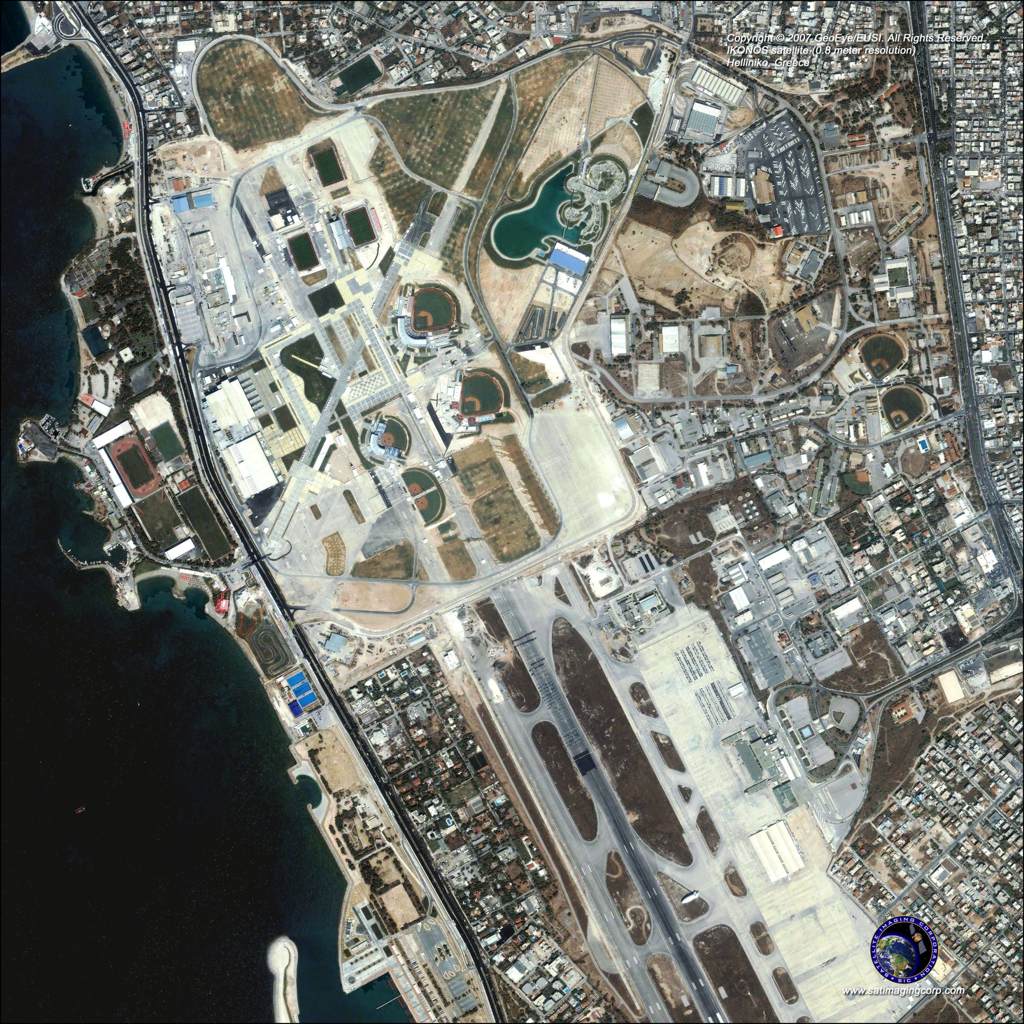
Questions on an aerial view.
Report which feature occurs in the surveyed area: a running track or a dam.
running track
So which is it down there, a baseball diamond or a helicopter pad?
baseball diamond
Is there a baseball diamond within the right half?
Yes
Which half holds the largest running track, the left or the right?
left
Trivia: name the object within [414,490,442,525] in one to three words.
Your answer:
baseball field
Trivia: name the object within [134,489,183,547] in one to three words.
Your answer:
soccer field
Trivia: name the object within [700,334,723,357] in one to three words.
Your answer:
hangar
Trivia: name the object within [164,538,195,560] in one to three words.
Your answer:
building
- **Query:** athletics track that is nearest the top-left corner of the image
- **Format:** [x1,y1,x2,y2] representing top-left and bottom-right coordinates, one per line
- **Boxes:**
[109,437,160,496]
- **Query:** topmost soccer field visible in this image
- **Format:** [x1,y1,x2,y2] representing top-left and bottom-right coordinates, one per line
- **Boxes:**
[329,53,384,99]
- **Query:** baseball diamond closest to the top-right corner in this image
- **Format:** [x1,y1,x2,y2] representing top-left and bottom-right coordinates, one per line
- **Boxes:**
[859,333,907,381]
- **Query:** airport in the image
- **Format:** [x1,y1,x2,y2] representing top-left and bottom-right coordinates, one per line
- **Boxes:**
[493,588,727,1024]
